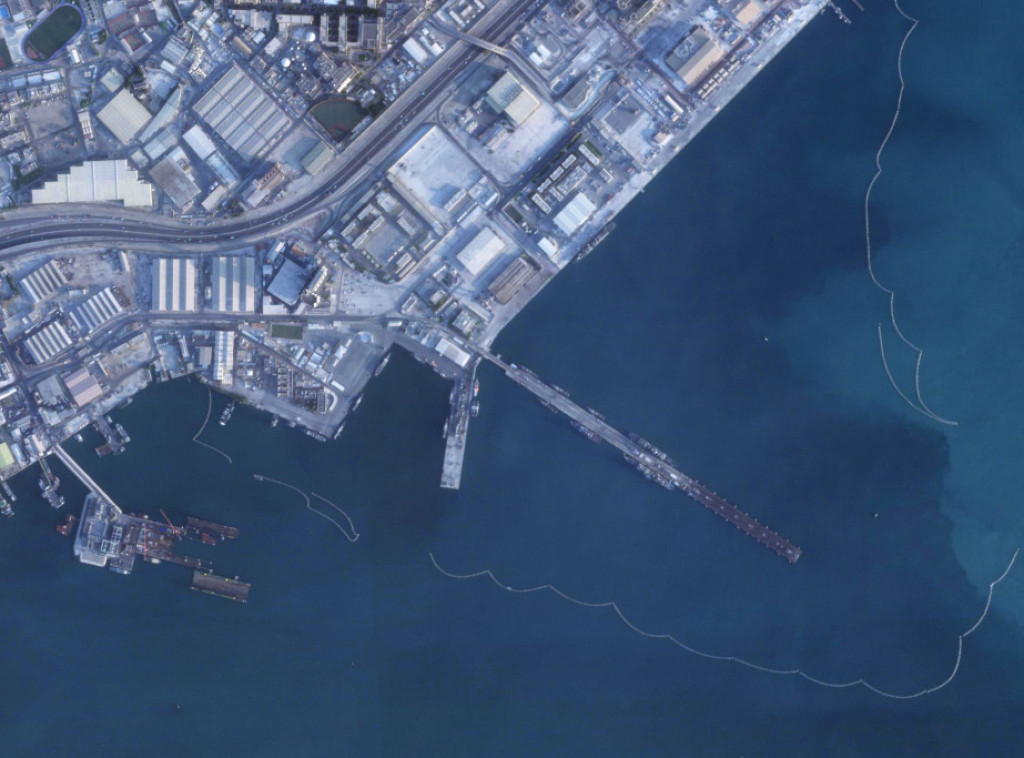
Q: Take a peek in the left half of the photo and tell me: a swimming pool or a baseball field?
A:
baseball field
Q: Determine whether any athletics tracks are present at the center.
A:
No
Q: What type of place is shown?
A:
port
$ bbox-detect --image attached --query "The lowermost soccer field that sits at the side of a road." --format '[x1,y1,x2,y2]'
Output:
[270,321,304,340]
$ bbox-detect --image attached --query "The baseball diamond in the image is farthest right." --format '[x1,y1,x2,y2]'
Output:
[308,98,370,142]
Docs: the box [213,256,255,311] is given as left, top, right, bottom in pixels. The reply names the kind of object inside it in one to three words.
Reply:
building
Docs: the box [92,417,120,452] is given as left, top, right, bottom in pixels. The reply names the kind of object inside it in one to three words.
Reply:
pier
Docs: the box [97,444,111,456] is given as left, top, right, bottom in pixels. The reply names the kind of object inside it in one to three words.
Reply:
ship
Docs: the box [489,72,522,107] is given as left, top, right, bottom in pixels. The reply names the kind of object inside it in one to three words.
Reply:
building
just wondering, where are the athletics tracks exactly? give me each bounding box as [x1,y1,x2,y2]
[21,1,86,65]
